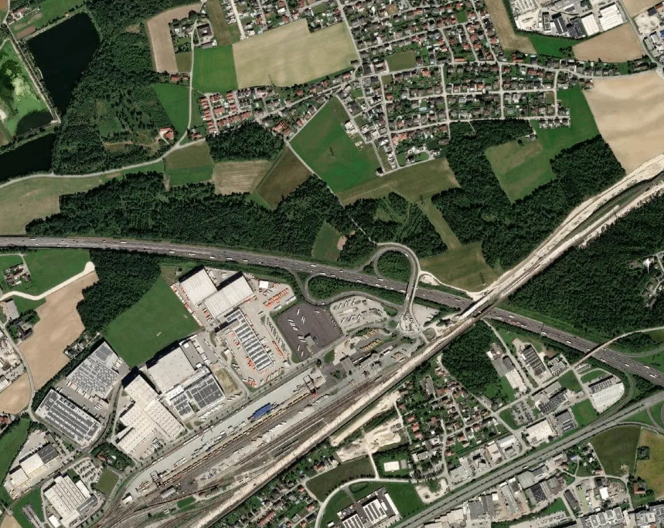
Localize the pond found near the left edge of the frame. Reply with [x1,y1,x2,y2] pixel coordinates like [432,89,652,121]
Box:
[0,41,56,136]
